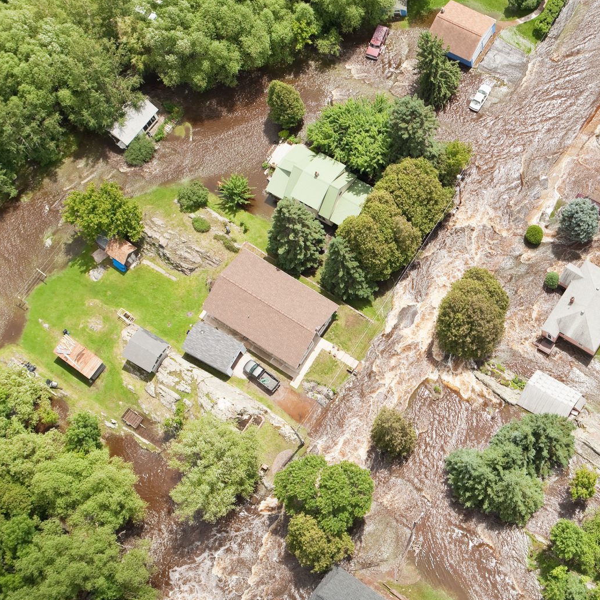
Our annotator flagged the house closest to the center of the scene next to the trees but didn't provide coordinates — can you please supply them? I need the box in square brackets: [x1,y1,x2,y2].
[200,249,341,369]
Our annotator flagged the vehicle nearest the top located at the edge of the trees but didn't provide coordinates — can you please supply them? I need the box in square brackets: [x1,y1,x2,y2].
[364,23,390,61]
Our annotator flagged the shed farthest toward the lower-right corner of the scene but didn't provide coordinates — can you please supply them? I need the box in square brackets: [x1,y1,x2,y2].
[520,370,589,429]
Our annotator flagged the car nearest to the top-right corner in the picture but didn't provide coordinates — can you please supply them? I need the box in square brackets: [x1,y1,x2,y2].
[467,81,493,116]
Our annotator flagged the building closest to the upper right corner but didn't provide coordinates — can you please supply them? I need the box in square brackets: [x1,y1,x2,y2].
[424,0,497,69]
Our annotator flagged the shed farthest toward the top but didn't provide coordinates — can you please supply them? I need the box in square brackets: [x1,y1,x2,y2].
[382,0,408,20]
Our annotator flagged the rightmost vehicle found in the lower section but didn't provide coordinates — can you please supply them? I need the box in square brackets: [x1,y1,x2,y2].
[243,359,281,395]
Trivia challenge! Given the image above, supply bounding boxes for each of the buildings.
[424,0,497,69]
[250,134,371,232]
[200,249,341,369]
[382,0,408,20]
[107,98,168,149]
[119,327,170,374]
[521,256,600,360]
[309,570,383,600]
[53,335,108,382]
[520,370,589,429]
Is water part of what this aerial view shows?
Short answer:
Yes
